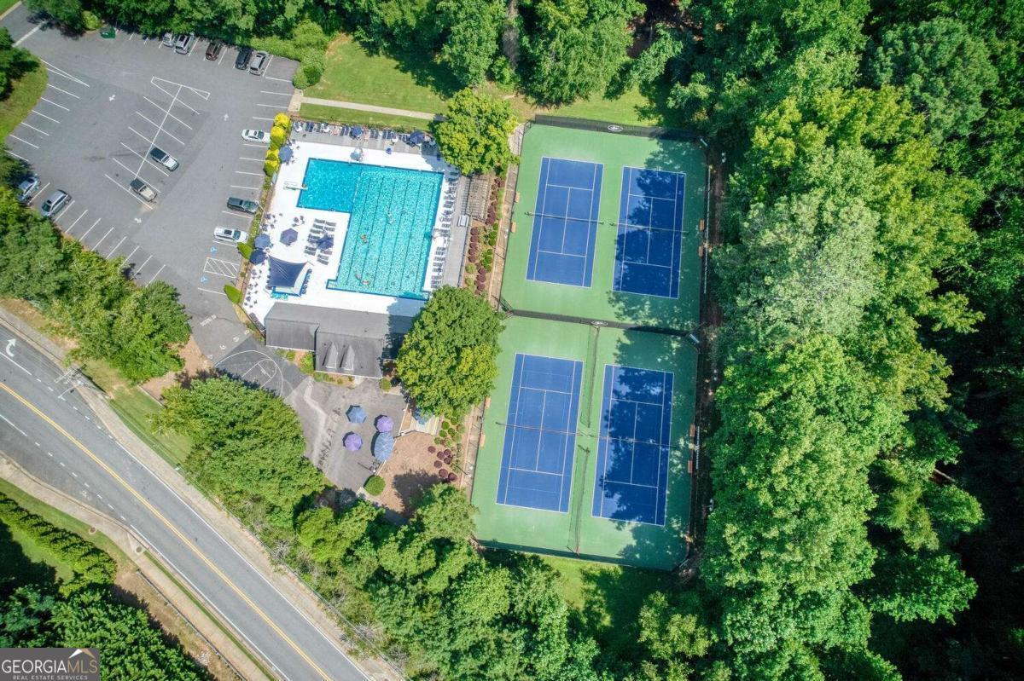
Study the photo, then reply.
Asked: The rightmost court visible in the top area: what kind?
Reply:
tennis court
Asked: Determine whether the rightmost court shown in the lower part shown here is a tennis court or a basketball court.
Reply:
tennis court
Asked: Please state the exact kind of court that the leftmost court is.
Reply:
basketball court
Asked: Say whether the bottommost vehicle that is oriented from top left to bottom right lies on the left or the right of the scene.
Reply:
left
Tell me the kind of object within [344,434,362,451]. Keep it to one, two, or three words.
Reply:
umbrella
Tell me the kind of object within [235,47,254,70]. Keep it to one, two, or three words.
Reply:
car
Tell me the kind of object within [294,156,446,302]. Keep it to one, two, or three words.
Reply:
swimming pool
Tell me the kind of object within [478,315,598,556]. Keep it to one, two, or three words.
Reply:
tennis court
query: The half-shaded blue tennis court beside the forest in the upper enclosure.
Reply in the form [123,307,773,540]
[599,135,707,331]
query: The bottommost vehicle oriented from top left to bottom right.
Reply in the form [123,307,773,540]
[129,177,157,199]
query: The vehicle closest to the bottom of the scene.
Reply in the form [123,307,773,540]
[216,227,246,243]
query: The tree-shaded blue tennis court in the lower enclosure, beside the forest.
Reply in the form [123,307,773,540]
[576,324,697,569]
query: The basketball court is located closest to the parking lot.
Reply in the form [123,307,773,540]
[208,339,305,426]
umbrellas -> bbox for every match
[410,131,425,146]
[376,416,393,433]
[280,228,298,245]
[351,127,362,141]
[347,406,367,424]
[374,433,393,461]
[278,147,294,162]
[344,434,362,451]
[249,248,266,263]
[255,234,271,249]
